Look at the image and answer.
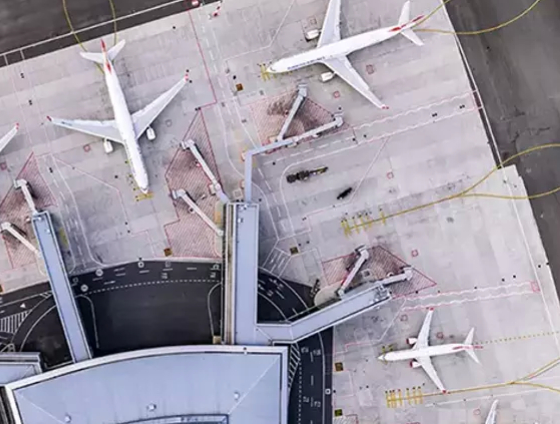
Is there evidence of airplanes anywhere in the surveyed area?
Yes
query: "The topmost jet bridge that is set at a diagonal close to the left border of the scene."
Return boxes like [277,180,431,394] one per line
[14,178,41,215]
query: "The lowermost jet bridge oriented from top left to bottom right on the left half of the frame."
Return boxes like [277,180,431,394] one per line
[0,223,42,258]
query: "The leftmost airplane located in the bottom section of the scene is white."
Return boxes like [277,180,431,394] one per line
[380,309,482,392]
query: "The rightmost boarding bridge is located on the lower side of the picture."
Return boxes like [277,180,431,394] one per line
[376,266,413,285]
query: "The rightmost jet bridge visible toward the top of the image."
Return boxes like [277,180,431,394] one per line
[294,115,342,145]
